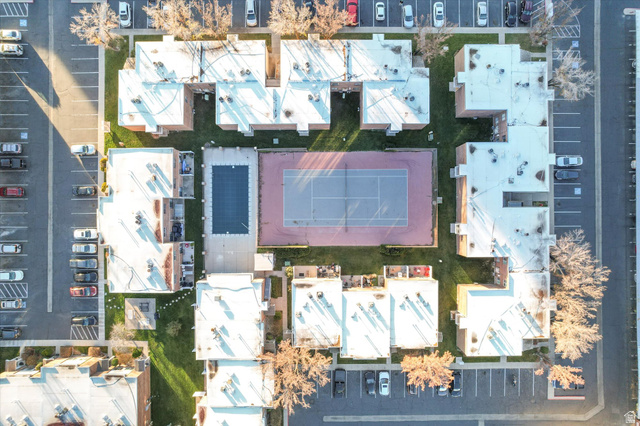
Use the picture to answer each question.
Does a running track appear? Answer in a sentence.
No, there appears to be no running track in this shot.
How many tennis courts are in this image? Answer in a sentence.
The photo contains exactly 1 tennis court.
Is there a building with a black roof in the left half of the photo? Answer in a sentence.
No, there is no building with a black roof in the left half of the photo.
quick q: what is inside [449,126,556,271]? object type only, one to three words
building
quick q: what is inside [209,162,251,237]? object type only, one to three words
swimming pool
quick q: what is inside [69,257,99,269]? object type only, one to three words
vehicle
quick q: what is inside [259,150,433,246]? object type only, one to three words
tennis court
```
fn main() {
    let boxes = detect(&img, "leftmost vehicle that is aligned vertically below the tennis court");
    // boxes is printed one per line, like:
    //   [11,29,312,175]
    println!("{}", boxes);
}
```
[334,367,346,398]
